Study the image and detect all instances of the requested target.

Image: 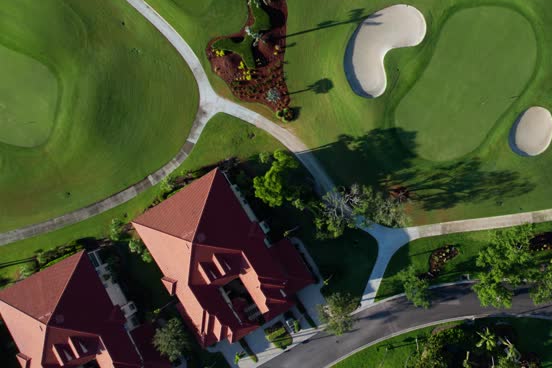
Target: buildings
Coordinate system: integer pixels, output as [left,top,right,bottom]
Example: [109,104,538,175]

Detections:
[0,240,190,368]
[132,165,317,350]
